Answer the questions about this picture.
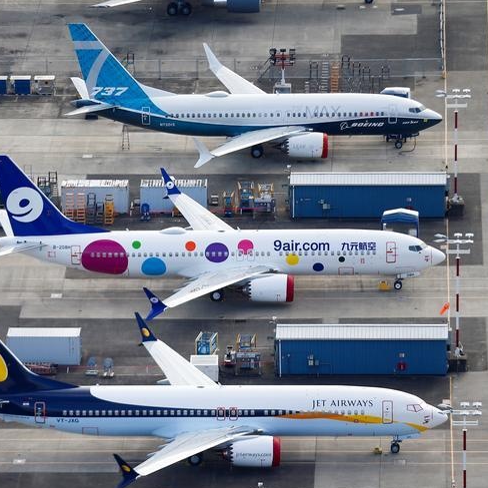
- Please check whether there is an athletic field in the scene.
No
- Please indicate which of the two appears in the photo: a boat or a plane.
plane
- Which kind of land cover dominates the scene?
paved ground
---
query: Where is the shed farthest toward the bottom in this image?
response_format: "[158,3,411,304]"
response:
[266,324,455,375]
